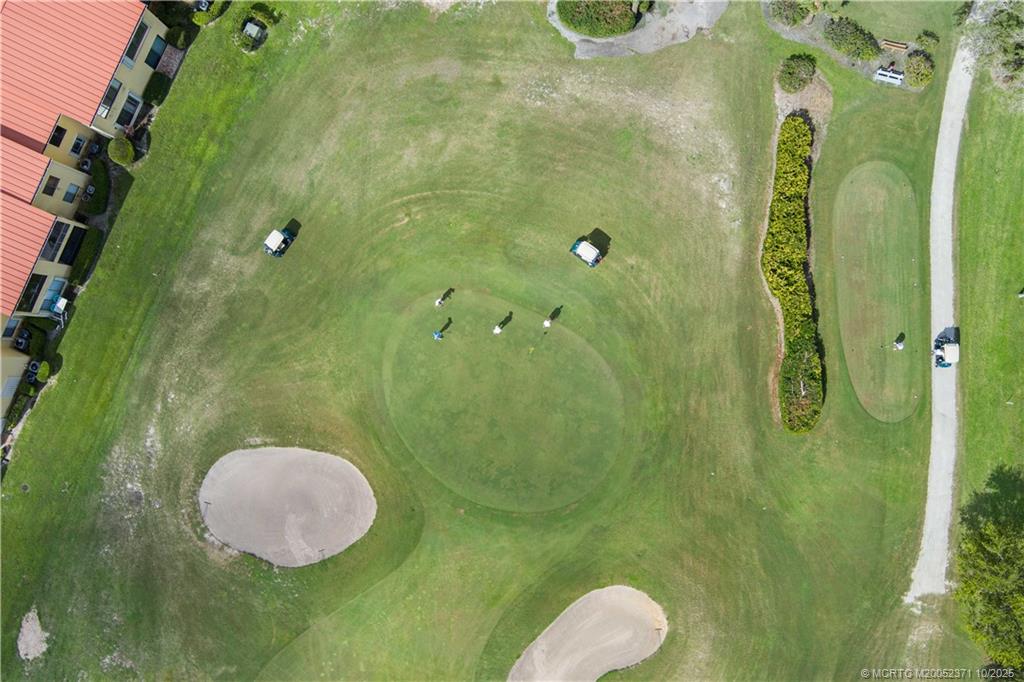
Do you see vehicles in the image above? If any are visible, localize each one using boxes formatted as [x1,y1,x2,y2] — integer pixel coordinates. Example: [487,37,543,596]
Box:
[265,231,292,258]
[935,339,959,365]
[573,241,600,265]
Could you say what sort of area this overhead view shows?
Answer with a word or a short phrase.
golf course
